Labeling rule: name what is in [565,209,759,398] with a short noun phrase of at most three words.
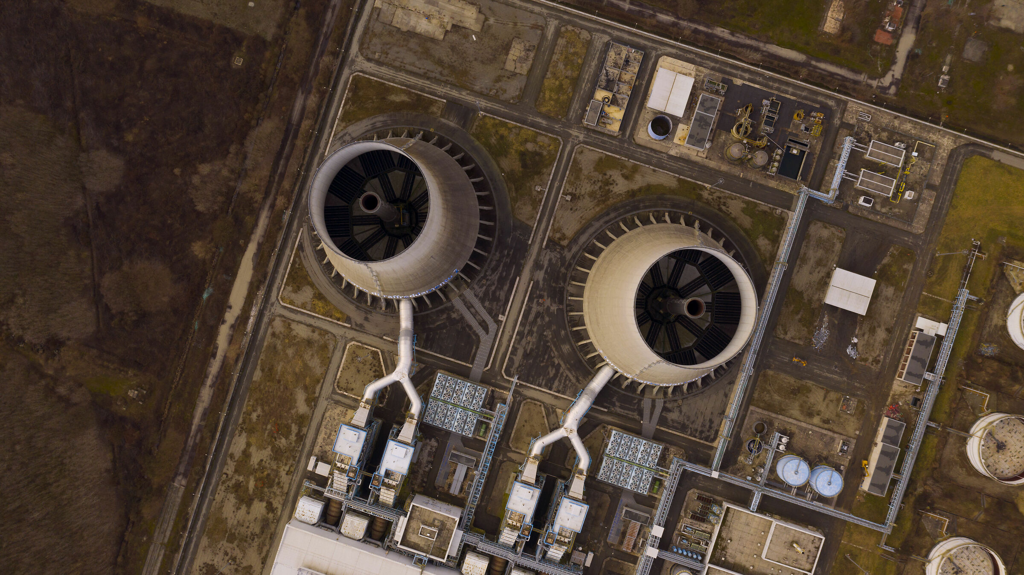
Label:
cooling tower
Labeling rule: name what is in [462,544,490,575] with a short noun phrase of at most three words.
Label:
house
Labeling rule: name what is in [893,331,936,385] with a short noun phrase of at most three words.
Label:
building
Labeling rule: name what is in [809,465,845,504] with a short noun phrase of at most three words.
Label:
storage tank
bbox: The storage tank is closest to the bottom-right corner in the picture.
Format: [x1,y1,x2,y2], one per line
[920,532,1006,575]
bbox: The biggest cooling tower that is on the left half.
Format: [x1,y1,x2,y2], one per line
[306,125,497,315]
